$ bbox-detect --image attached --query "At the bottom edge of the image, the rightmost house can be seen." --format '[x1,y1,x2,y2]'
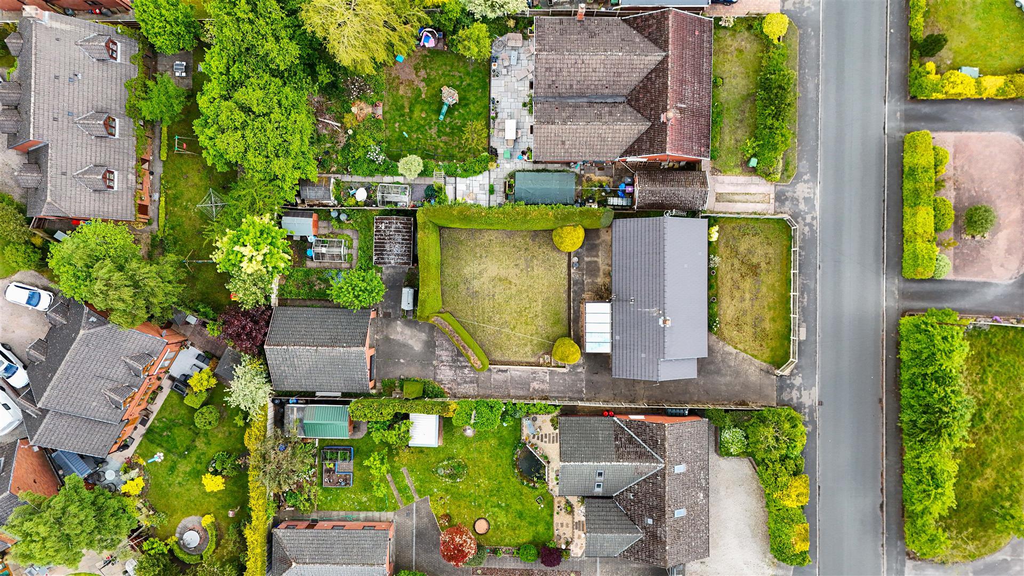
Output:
[558,414,709,576]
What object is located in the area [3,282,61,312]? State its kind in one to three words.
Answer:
car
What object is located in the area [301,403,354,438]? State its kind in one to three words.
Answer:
shed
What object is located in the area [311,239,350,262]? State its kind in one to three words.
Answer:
greenhouse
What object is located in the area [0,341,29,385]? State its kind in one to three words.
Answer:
car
